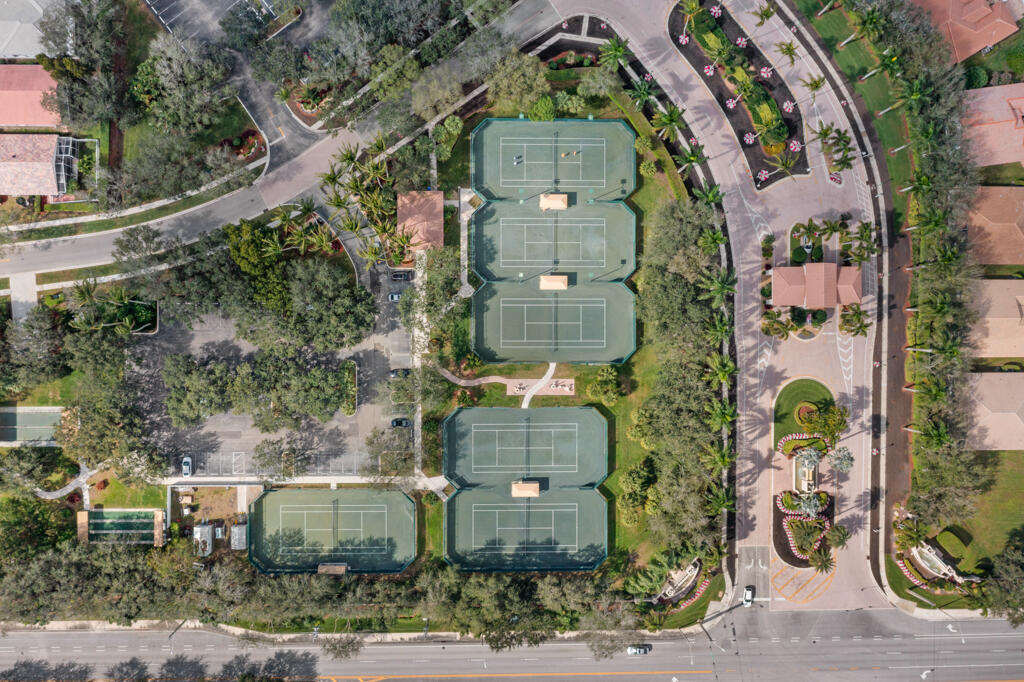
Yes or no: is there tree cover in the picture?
Yes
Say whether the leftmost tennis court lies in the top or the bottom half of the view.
bottom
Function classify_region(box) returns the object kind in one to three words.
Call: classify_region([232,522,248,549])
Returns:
shed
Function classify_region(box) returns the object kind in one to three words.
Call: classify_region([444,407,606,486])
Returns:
tennis court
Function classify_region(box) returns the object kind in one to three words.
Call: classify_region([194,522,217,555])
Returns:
shed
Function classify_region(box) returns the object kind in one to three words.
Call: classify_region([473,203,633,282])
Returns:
tennis court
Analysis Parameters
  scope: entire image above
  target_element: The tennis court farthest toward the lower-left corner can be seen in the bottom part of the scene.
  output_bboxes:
[252,489,415,569]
